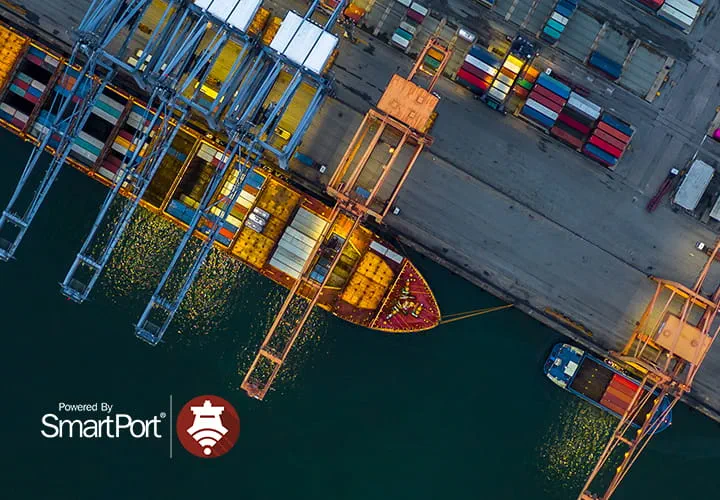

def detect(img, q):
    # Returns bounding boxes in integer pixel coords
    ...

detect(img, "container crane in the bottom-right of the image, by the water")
[581,255,720,500]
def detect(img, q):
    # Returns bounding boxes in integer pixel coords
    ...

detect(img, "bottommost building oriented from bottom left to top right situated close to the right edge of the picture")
[674,159,717,210]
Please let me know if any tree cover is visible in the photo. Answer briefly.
No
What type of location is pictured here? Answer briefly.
port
